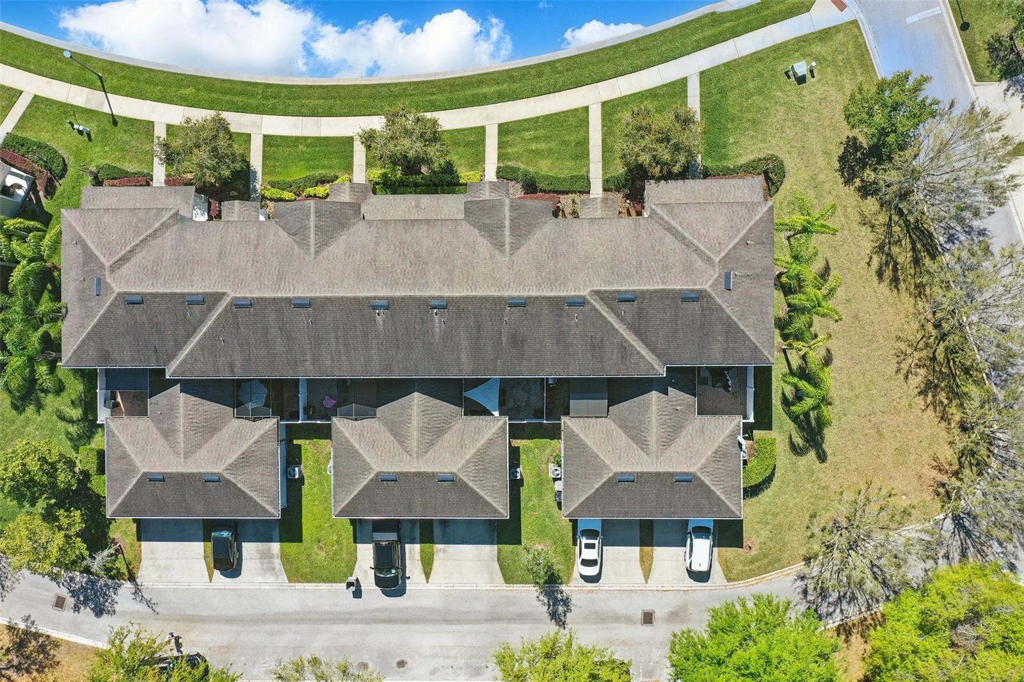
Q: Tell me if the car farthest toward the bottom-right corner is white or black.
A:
white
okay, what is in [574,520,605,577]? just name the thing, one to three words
car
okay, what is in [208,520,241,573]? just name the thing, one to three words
car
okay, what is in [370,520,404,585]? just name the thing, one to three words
truck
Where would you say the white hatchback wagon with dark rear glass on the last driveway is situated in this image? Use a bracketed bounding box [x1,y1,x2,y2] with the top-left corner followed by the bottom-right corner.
[684,520,717,572]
